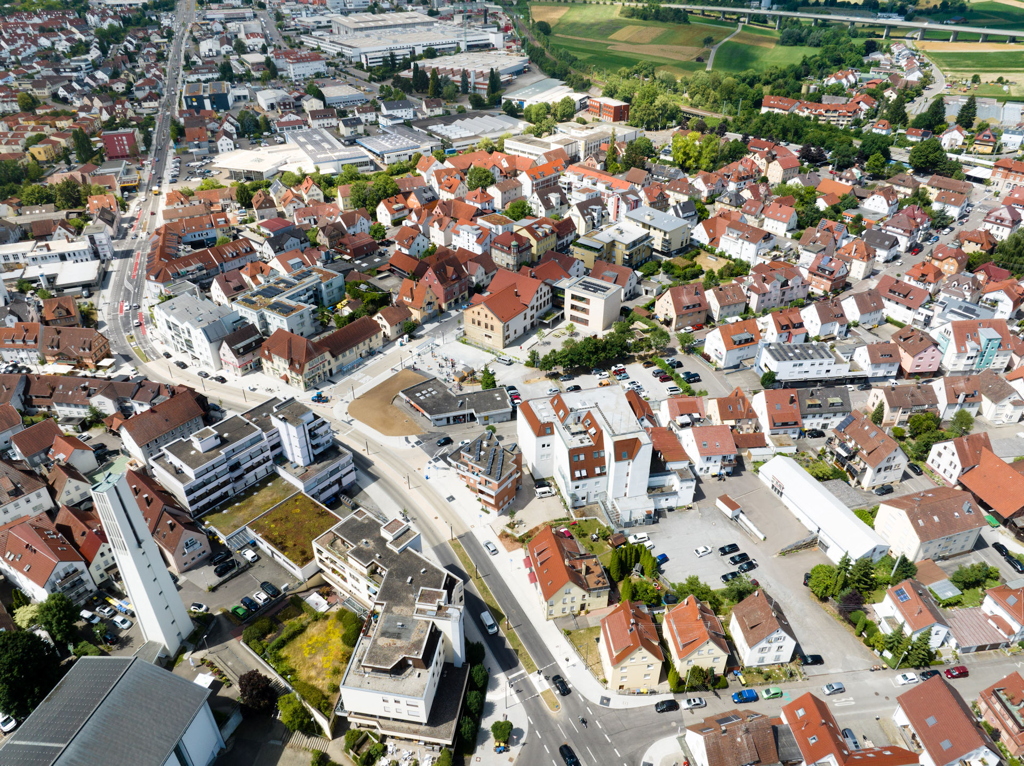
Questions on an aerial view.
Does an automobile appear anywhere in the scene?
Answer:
Yes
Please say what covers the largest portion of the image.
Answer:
buildings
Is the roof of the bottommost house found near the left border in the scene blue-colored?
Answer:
No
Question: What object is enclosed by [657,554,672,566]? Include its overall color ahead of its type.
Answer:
blue vehicle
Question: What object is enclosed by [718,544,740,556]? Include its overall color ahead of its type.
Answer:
black vehicle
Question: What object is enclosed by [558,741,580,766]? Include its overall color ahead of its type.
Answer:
black car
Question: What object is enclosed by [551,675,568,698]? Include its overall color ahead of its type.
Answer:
black car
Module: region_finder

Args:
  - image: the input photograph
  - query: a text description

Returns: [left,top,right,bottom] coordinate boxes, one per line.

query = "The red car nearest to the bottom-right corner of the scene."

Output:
[942,665,971,679]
